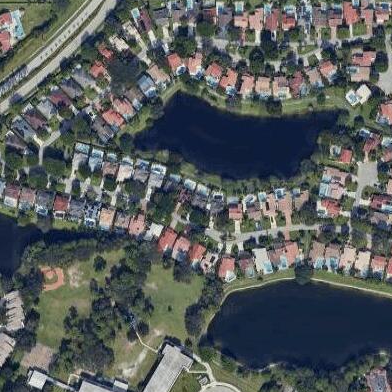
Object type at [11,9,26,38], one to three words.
swimming pool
